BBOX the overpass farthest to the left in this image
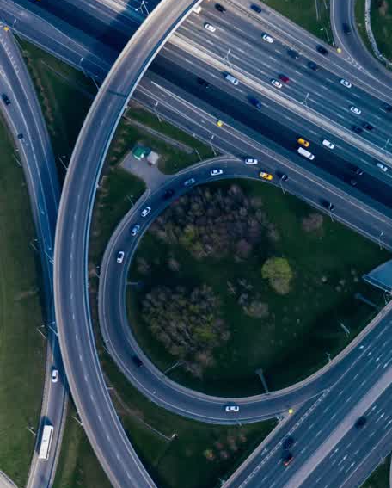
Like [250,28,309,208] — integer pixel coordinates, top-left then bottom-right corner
[52,0,204,488]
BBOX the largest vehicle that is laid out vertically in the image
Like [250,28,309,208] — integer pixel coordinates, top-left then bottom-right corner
[38,425,54,461]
